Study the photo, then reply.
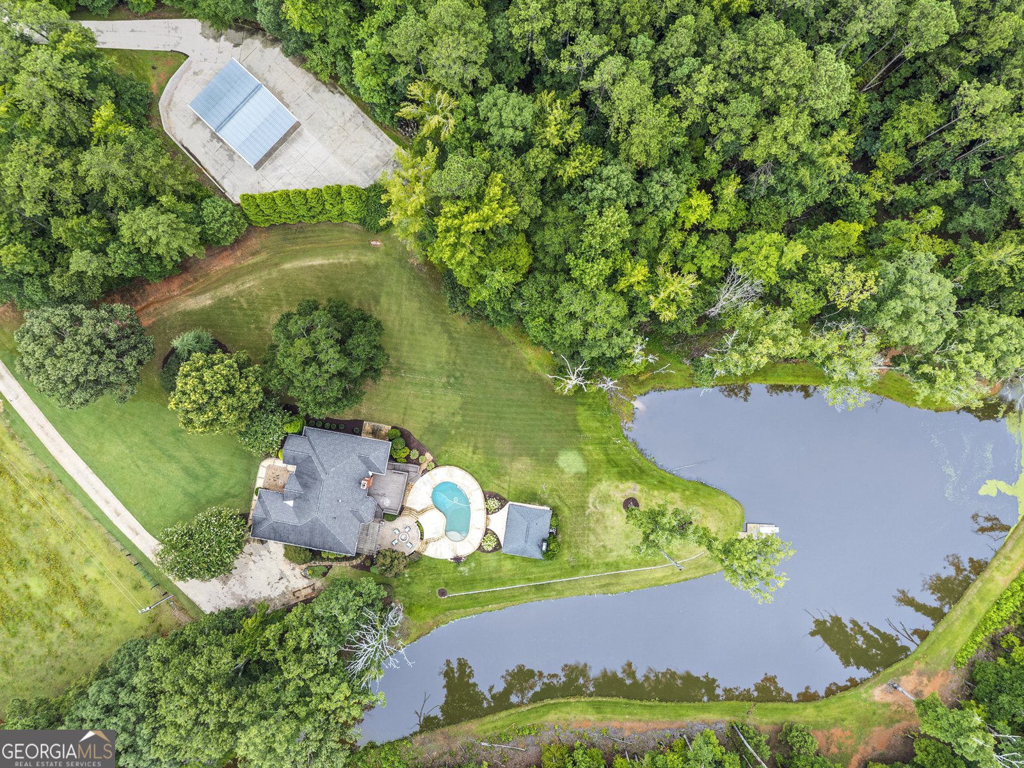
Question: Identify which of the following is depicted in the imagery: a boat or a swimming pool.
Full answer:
I can see a swimming pool in this picture.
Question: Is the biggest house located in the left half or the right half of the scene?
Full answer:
You can find the biggest house on the left side of the picture.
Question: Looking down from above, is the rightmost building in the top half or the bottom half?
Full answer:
The rightmost building sits in the bottom half of the picture.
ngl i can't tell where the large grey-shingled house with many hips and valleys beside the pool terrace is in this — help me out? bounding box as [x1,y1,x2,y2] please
[250,427,393,556]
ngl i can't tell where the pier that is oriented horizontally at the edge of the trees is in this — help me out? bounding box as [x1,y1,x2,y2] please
[737,523,779,540]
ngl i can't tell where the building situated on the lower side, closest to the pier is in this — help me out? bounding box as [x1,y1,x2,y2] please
[502,503,552,560]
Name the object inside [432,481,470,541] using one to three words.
swimming pool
